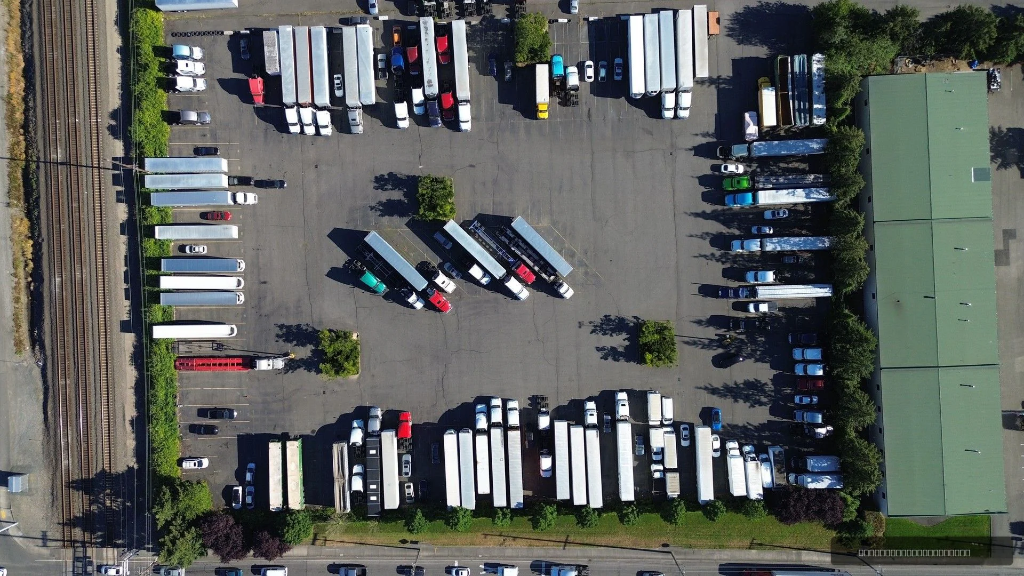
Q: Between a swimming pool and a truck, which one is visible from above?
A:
truck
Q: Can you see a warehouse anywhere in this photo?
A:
Yes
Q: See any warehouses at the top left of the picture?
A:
No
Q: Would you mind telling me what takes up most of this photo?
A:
paved ground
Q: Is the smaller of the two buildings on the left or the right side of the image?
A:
left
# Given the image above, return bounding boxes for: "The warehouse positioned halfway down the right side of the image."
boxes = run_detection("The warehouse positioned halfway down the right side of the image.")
[857,71,1009,518]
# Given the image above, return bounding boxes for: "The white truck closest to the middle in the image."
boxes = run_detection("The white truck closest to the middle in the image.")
[492,274,529,302]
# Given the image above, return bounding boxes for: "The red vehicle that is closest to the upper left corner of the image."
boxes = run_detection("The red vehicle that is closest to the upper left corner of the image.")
[249,69,268,106]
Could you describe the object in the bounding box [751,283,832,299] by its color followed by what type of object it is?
white trailer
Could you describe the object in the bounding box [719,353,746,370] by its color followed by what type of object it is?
black car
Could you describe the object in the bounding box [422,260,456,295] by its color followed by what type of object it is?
white truck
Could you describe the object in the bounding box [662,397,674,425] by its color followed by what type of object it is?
white vehicle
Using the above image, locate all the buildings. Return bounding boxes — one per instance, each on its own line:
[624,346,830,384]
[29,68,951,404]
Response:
[2,475,27,497]
[857,71,1009,518]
